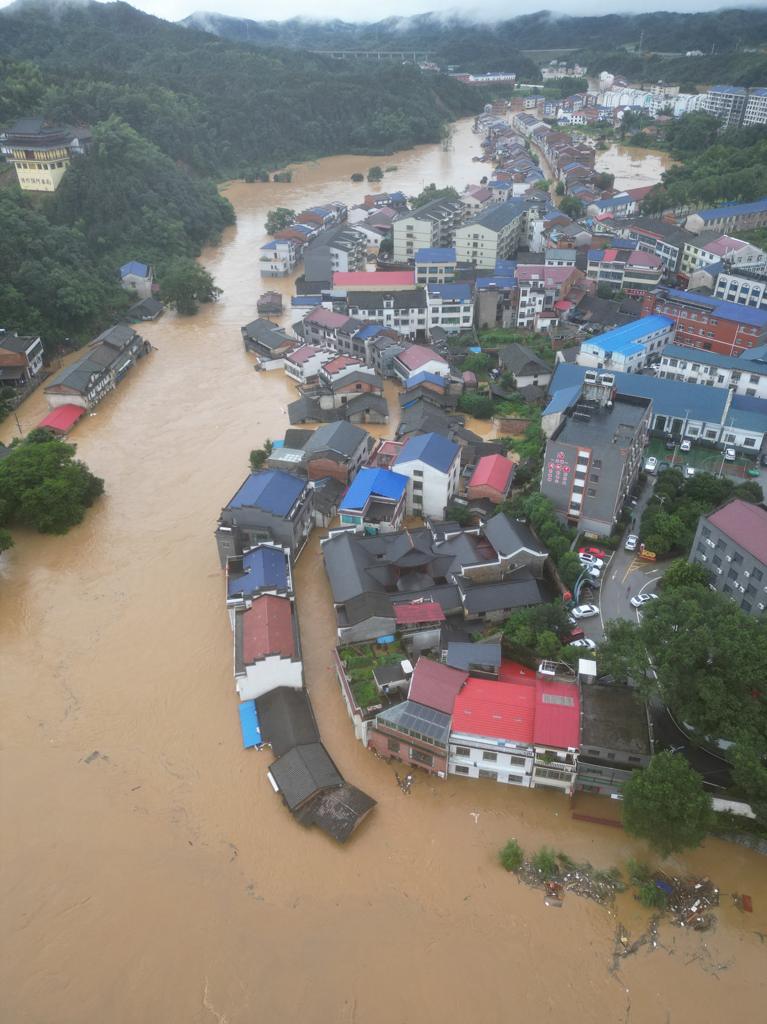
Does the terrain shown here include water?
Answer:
Yes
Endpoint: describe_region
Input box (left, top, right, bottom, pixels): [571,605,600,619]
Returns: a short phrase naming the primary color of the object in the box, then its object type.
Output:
white car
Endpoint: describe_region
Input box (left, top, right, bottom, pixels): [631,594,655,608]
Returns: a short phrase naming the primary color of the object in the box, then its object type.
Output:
white car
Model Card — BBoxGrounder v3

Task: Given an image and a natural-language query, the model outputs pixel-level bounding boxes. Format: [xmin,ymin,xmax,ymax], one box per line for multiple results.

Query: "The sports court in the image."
[636,441,761,478]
